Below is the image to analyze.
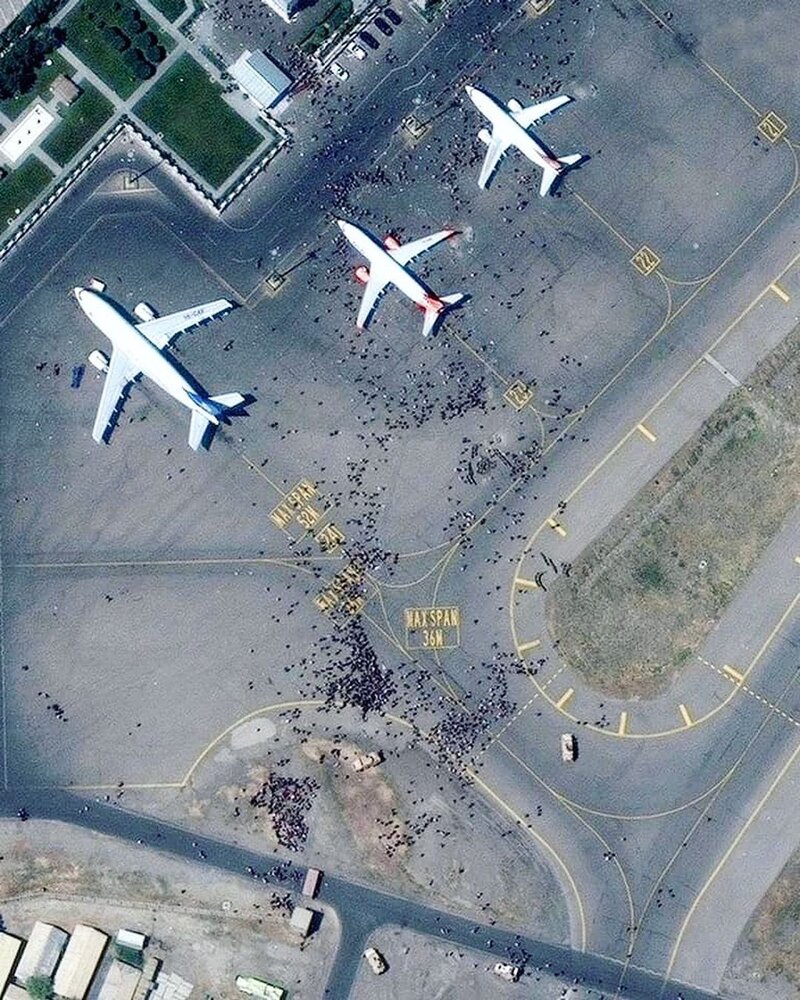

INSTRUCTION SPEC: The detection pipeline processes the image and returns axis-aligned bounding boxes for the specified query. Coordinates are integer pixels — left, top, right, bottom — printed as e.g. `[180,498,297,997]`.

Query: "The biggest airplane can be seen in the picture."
[73,289,245,448]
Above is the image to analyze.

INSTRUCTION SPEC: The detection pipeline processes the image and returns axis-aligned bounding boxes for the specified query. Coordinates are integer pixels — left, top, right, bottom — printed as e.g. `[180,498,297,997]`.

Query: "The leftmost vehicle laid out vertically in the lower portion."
[303,868,318,898]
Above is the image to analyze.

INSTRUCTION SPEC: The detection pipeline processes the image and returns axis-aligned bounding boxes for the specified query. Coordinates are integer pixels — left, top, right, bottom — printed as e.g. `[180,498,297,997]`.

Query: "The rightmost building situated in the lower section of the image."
[290,905,314,935]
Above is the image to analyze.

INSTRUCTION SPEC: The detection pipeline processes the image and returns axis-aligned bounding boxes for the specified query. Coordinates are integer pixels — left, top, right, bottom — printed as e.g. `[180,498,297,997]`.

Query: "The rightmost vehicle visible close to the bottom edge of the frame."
[493,964,520,980]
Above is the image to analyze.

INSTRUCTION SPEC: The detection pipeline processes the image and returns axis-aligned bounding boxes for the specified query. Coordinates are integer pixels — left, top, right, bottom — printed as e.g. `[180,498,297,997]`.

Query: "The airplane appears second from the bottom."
[337,220,464,332]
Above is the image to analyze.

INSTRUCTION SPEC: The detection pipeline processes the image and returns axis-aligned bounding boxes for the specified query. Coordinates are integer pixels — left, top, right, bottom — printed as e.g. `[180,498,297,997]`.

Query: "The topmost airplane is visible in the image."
[465,87,584,194]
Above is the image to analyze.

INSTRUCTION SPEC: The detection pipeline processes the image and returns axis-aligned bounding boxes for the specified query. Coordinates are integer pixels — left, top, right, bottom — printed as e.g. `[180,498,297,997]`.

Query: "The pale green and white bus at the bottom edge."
[235,975,283,1000]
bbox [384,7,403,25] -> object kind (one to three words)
car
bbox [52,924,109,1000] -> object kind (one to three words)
building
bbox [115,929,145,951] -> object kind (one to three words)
shed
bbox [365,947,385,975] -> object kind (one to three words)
vehicle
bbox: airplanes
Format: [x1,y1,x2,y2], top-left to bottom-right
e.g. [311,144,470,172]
[73,289,245,448]
[337,220,464,332]
[465,87,584,194]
